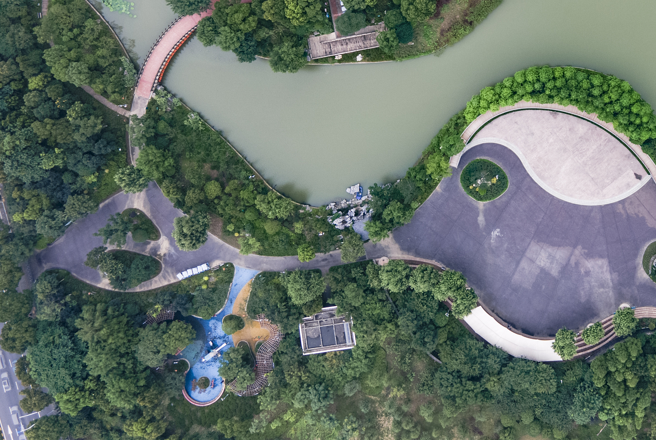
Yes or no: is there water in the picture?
Yes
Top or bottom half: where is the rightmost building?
bottom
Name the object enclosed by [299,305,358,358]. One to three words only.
building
